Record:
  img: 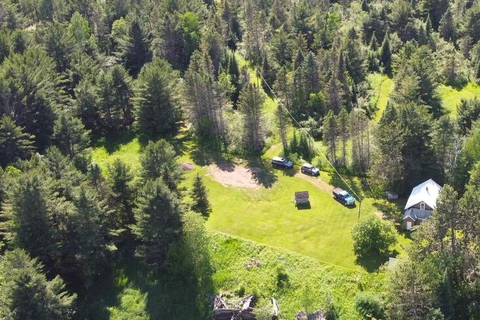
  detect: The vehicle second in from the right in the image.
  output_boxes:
[299,162,321,176]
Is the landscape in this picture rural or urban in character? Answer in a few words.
rural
